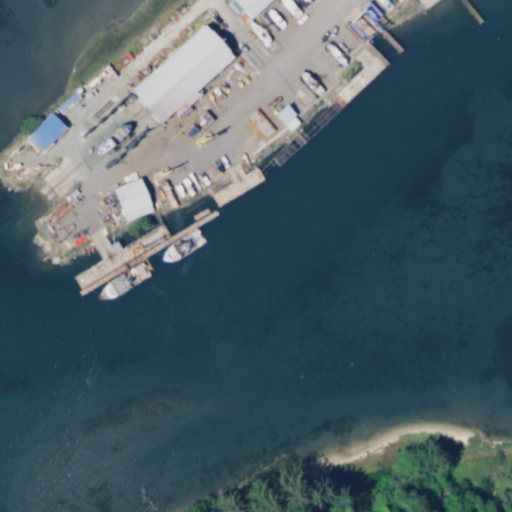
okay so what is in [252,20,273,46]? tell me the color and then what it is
white boat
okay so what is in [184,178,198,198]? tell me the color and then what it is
white boat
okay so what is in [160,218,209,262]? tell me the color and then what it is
white ship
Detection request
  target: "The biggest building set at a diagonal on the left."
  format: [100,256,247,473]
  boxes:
[132,25,236,124]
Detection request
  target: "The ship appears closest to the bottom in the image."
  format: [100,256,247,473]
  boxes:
[100,259,154,298]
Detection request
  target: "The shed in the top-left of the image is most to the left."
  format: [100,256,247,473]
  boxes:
[29,113,68,152]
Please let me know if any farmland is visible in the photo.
No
